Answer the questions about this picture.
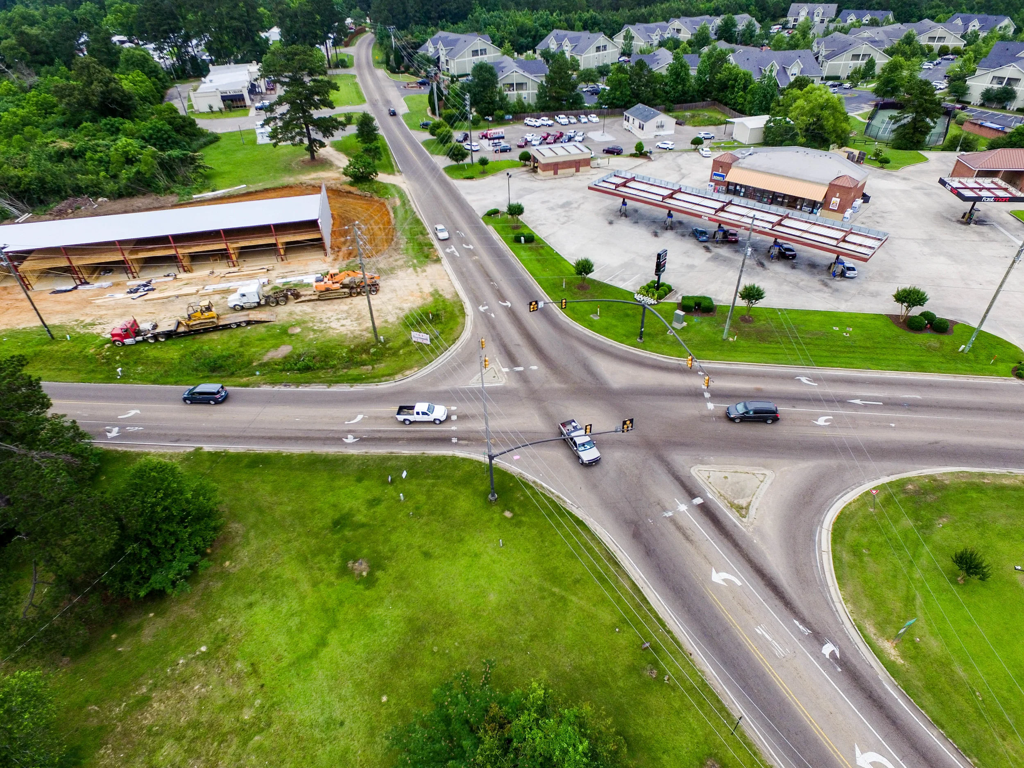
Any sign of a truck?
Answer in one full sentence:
Yes, the image includes a truck.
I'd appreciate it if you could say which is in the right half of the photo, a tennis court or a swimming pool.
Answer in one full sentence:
The feature located in the right half of the photo is a tennis court.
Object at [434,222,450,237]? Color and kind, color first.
white car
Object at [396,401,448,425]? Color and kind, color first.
white truck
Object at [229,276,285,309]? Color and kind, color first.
white truck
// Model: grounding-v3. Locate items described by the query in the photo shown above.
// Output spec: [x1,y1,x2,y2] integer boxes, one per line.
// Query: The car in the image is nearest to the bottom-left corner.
[177,382,228,405]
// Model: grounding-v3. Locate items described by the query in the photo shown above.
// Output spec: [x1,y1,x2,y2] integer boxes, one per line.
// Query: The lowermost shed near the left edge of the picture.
[0,183,331,292]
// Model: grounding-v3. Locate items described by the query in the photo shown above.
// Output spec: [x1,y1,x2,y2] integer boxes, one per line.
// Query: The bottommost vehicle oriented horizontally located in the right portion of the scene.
[726,400,780,424]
